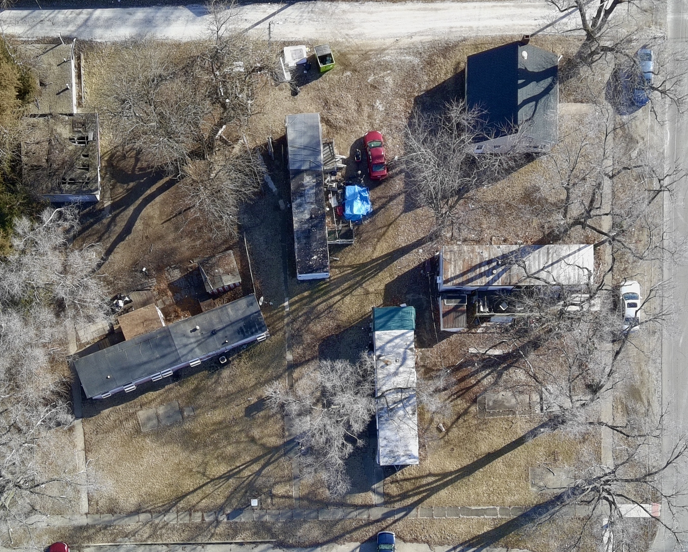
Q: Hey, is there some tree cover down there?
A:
Yes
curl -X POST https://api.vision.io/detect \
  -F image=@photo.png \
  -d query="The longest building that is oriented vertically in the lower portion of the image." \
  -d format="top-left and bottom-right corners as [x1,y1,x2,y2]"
[371,306,419,471]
